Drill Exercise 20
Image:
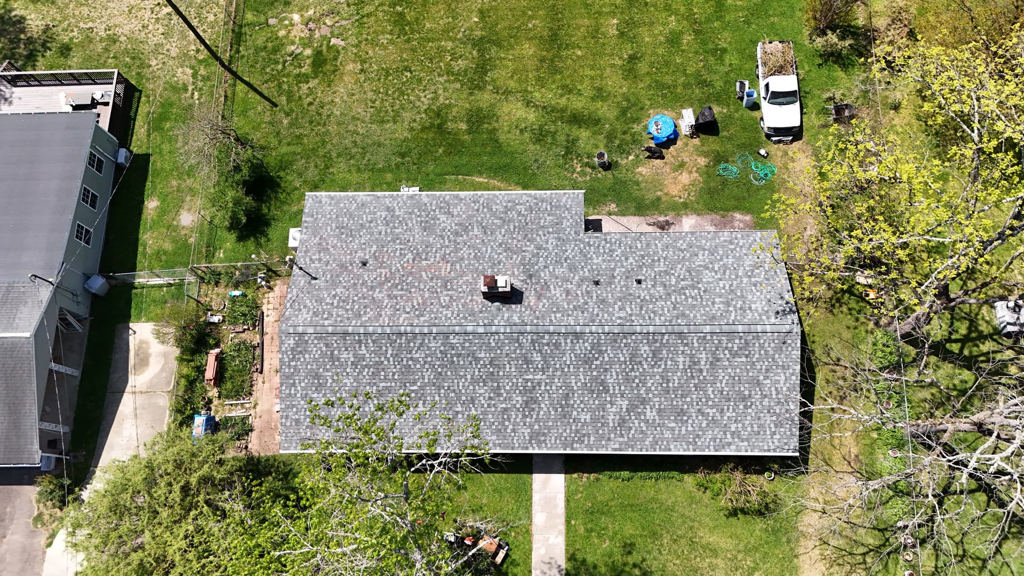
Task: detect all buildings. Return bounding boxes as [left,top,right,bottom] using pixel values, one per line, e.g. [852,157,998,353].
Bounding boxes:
[0,111,117,466]
[277,192,802,456]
